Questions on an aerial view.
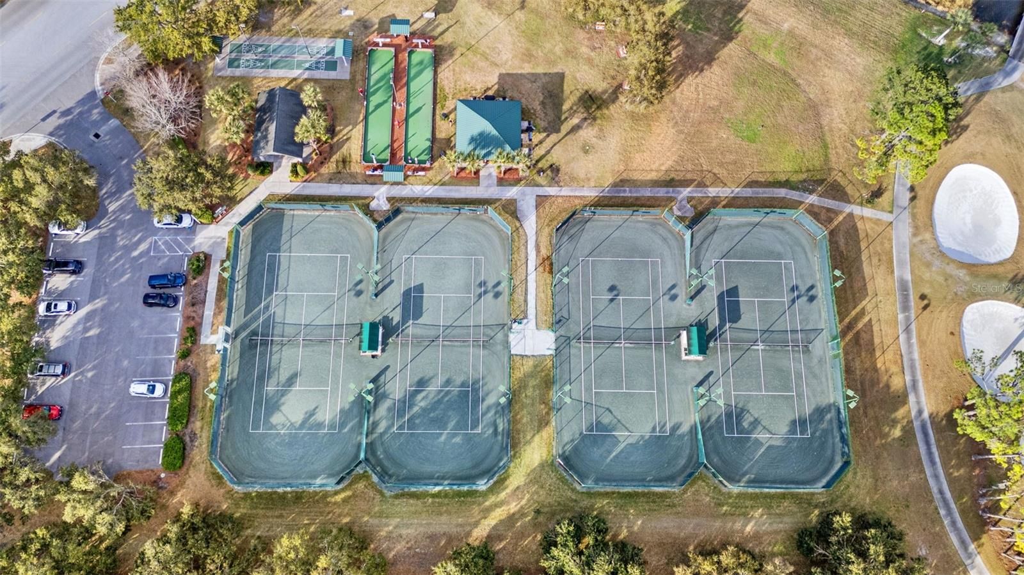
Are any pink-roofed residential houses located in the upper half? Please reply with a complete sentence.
No, there is no pink-roofed residential house in the upper half.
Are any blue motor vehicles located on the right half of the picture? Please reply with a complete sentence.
No, no blue motor vehicle can be made out on the right half of the picture.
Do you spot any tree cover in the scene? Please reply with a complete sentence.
Yes, there's tree cover in this view.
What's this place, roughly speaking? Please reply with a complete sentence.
This looks like a sports ground.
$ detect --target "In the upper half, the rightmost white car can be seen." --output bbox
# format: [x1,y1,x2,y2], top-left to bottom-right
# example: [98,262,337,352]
[154,214,193,229]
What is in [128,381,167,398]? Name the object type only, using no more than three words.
car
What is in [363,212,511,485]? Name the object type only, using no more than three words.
tennis court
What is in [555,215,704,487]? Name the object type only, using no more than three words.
tennis court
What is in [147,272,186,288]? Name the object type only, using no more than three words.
car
